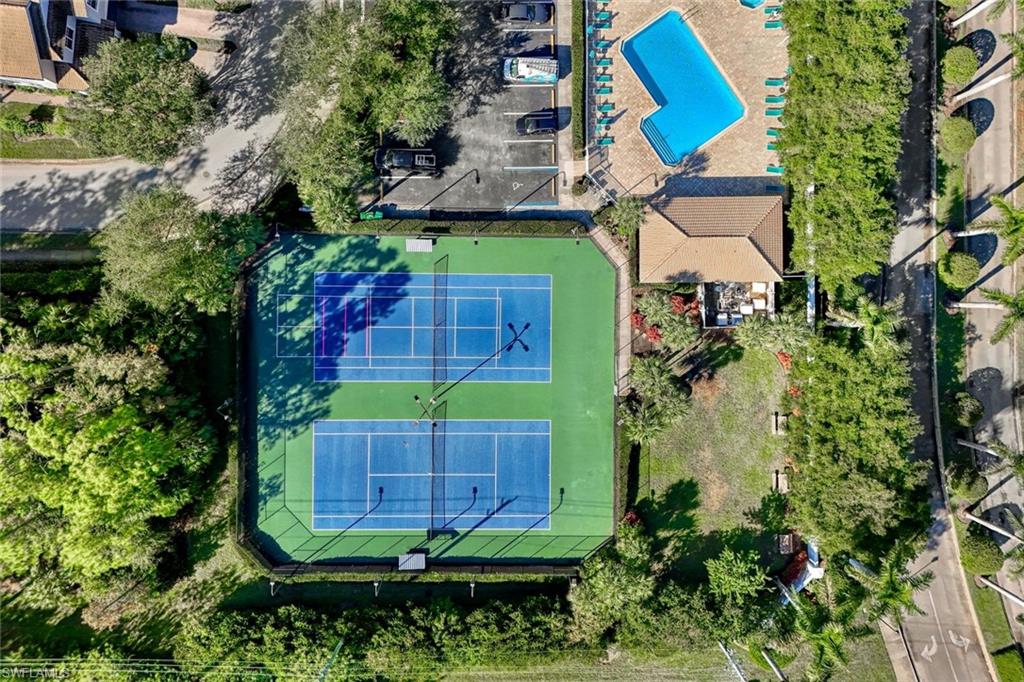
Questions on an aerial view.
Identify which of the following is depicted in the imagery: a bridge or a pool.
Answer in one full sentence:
Of the two, only a pool appears.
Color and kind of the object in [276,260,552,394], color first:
blue tennis court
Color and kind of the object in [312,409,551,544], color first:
blue tennis court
